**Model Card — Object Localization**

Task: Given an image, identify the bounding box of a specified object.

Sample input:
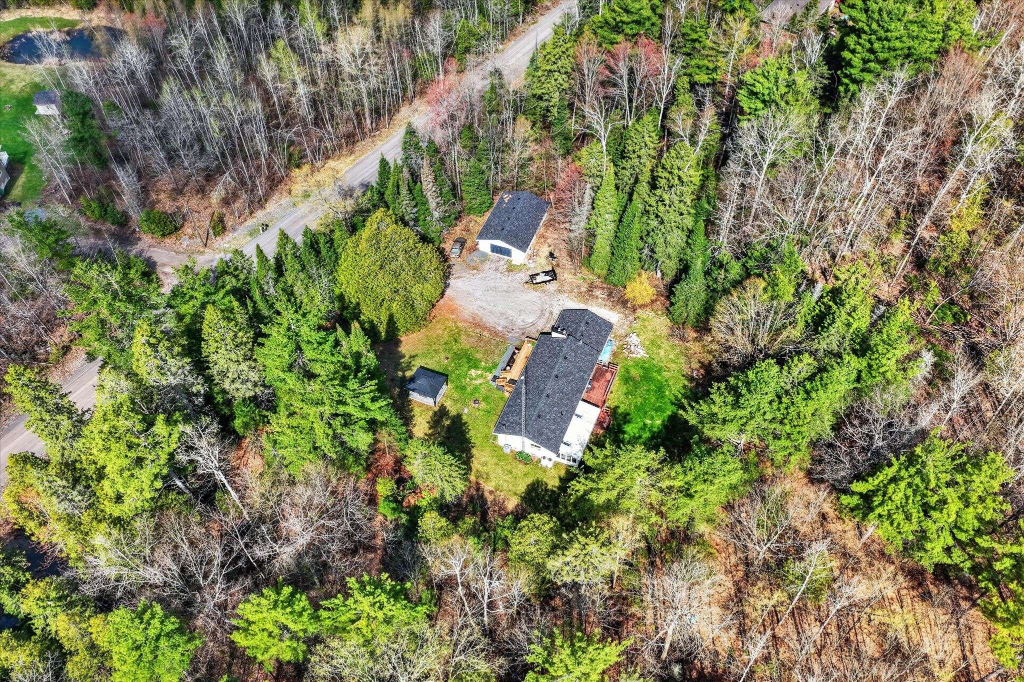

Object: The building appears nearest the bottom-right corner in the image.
[494,311,613,469]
